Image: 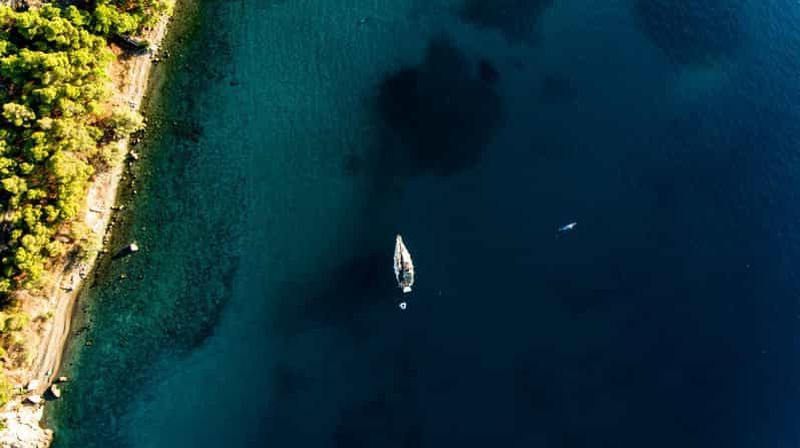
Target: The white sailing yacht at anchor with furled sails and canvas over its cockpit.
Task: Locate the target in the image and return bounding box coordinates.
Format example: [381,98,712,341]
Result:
[393,234,414,293]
